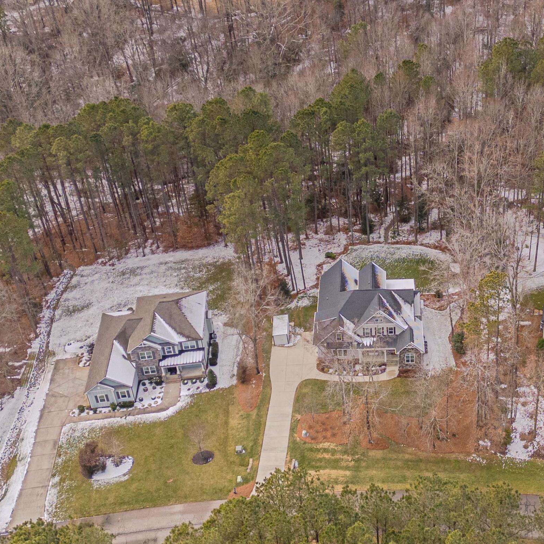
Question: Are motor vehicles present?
No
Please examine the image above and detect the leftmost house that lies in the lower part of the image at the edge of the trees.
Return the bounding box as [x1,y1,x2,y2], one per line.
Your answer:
[84,290,214,408]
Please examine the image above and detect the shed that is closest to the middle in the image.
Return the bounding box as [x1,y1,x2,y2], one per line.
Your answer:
[271,310,288,345]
